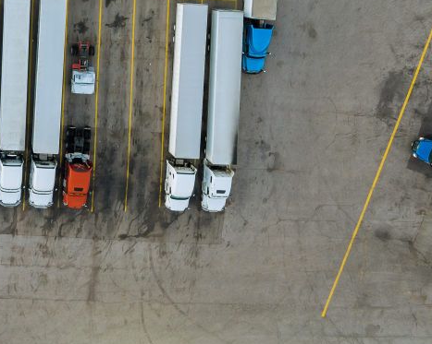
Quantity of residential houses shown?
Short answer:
0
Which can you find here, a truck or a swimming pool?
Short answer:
truck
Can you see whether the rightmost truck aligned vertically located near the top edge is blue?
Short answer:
Yes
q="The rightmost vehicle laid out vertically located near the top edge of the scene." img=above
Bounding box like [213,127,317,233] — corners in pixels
[241,0,274,73]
